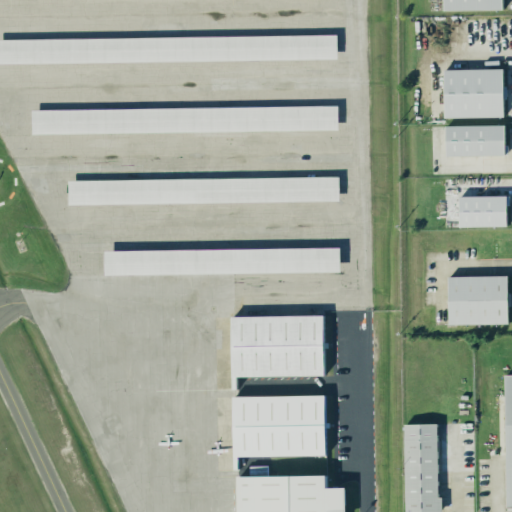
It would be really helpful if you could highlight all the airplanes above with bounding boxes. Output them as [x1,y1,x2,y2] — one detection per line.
[158,432,180,448]
[208,441,230,457]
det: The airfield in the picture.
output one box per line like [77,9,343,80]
[0,0,373,512]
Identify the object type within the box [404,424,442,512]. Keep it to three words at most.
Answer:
building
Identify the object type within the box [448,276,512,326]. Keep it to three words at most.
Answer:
building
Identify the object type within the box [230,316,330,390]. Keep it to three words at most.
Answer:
hangar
